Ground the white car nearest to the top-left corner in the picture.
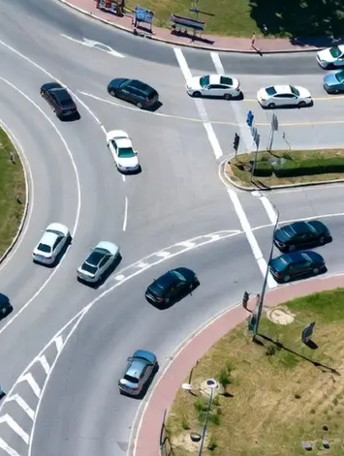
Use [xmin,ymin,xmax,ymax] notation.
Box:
[107,132,136,171]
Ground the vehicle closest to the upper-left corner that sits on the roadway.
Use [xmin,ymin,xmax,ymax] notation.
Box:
[37,85,82,121]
